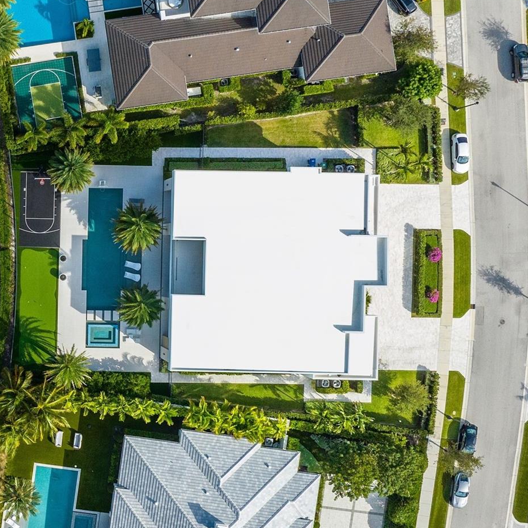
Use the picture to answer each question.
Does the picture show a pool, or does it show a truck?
pool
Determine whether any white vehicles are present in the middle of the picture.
No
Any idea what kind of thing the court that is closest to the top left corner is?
basketball court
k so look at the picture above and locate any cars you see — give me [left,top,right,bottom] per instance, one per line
[458,420,478,458]
[448,470,469,509]
[449,133,468,172]
[510,41,528,81]
[395,0,420,15]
